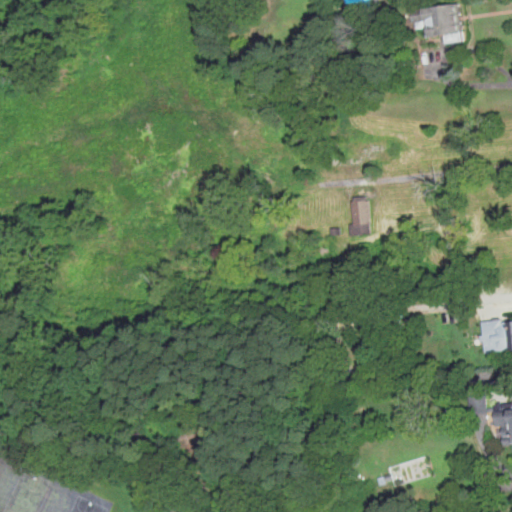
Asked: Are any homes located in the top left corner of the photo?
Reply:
No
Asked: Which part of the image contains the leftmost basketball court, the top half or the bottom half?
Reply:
bottom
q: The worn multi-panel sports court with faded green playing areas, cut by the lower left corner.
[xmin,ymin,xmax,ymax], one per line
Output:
[0,458,112,512]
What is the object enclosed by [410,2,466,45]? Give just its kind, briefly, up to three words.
house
